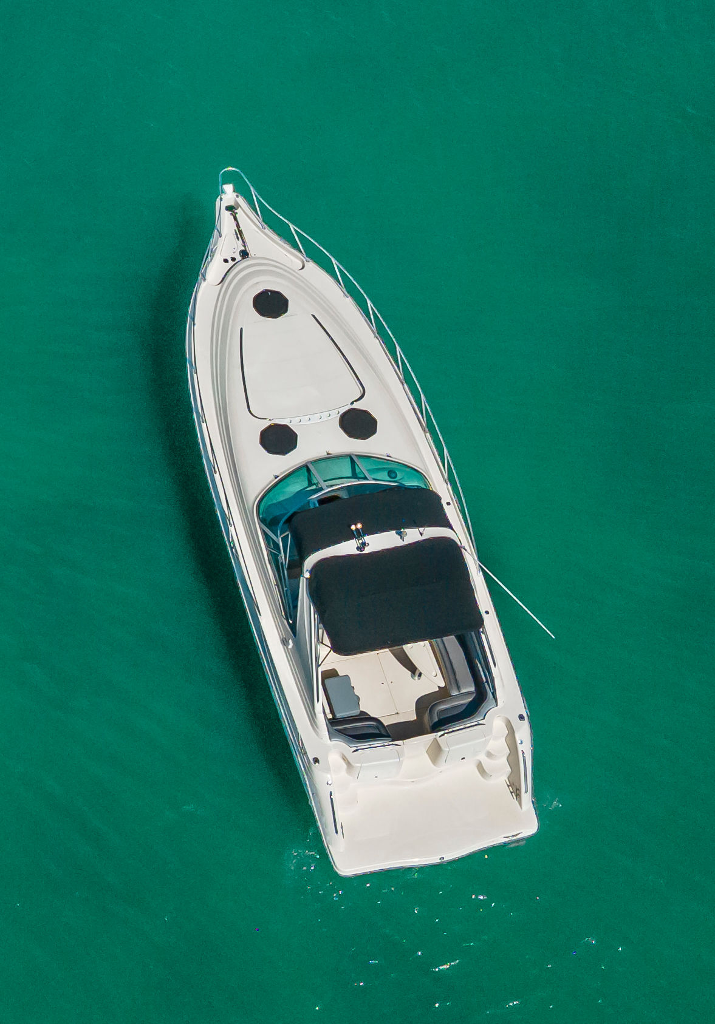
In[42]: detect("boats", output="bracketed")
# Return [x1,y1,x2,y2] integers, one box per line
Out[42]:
[187,166,554,881]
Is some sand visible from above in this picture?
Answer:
No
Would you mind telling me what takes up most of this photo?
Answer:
water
